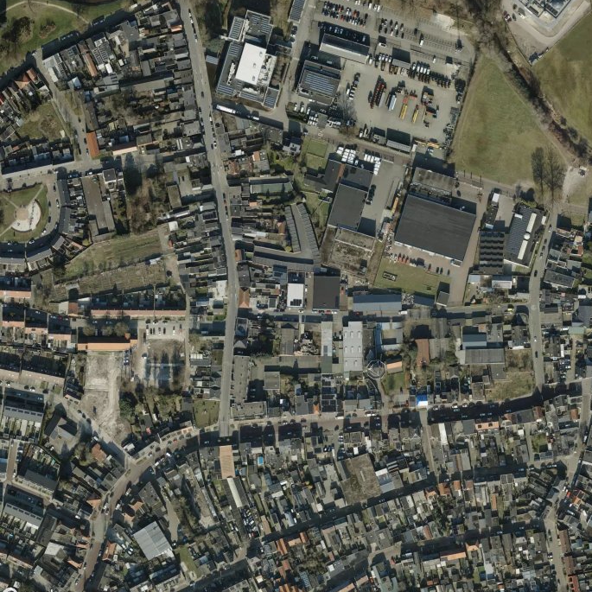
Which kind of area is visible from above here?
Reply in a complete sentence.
This image shows a residential area.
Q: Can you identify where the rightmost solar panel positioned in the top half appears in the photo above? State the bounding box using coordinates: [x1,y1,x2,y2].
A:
[508,216,529,255]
